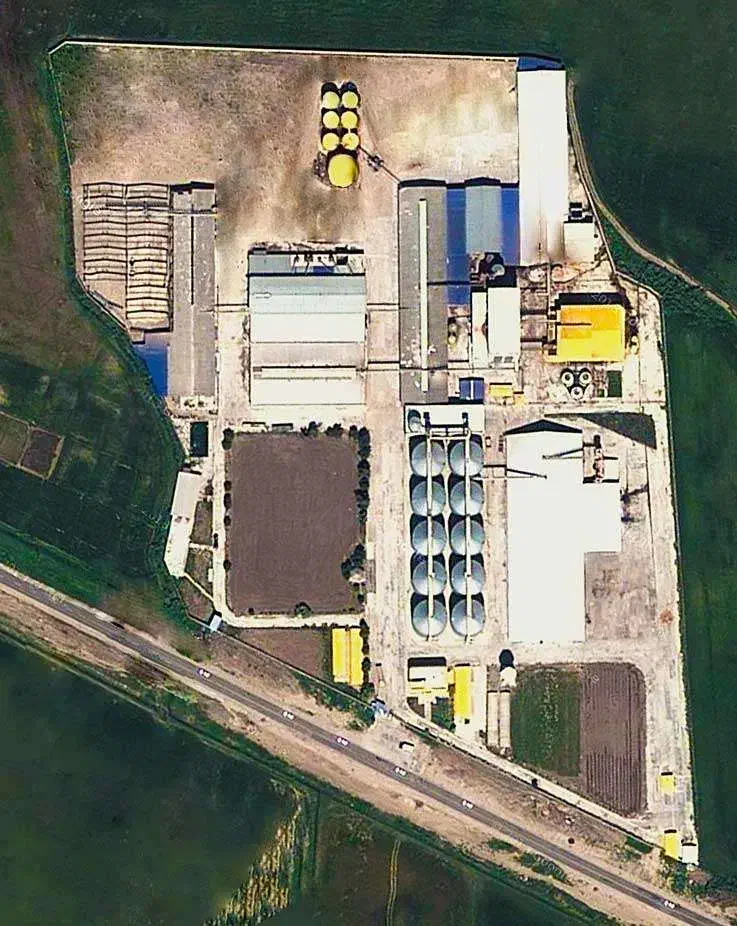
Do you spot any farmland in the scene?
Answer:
Yes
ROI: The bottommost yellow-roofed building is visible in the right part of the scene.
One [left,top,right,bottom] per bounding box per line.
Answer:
[665,834,680,859]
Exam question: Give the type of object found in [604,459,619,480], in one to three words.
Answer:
house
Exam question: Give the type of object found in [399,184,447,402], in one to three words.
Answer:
shed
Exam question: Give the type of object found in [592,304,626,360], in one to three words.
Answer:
building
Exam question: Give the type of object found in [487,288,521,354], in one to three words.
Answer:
building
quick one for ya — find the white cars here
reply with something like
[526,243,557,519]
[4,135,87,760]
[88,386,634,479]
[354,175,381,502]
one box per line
[463,799,473,807]
[337,737,348,744]
[200,669,211,677]
[284,710,295,718]
[395,766,407,774]
[665,901,676,908]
